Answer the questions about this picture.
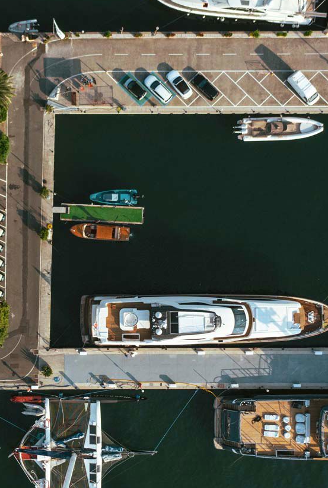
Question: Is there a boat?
Yes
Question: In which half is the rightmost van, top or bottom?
top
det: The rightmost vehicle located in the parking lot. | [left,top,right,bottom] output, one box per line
[286,69,320,107]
